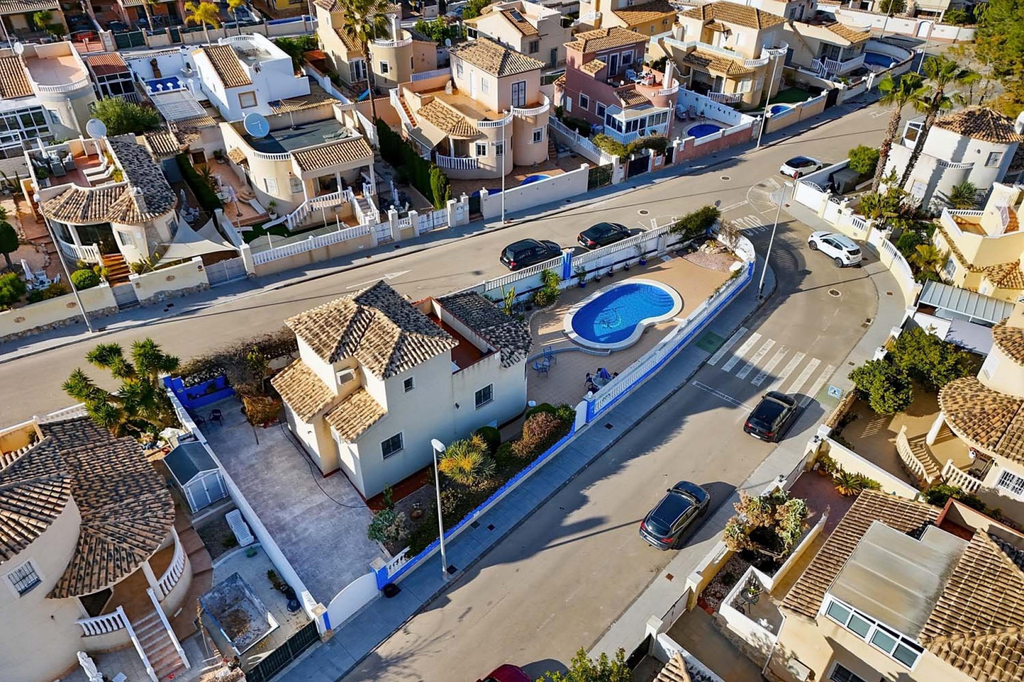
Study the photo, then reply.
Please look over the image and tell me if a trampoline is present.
No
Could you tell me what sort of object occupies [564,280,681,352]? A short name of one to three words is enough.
swimming pool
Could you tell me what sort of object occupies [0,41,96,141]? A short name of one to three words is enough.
house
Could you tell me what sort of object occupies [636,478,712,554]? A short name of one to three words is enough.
car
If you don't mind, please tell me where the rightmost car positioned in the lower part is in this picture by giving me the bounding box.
[742,388,802,447]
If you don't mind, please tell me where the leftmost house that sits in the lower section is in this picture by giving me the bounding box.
[0,417,193,682]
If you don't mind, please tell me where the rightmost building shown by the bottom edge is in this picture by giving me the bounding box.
[766,489,1024,682]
